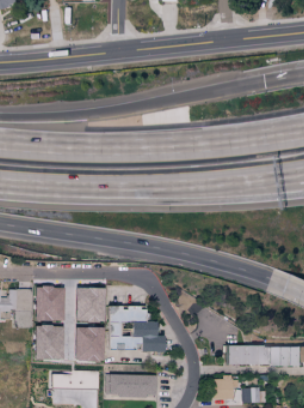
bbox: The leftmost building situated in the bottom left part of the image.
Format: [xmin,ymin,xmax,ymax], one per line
[0,288,32,328]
